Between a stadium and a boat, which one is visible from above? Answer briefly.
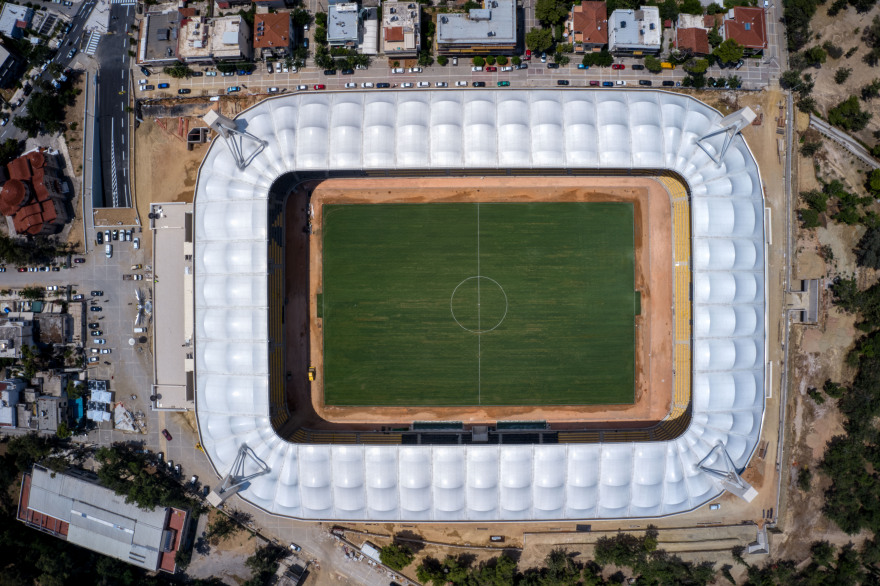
stadium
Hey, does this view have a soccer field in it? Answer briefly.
Yes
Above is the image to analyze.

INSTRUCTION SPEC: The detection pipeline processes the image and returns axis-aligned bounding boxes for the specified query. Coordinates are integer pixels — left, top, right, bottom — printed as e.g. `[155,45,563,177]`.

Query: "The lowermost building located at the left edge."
[15,459,195,574]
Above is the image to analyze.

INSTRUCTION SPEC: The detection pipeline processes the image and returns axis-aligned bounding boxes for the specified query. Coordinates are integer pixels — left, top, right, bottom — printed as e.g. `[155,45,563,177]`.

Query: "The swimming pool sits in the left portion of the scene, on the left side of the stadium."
[68,396,84,421]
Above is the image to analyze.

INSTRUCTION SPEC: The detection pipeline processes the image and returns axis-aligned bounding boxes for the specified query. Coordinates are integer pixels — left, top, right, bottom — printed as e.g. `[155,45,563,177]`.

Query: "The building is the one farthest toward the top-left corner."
[0,2,46,46]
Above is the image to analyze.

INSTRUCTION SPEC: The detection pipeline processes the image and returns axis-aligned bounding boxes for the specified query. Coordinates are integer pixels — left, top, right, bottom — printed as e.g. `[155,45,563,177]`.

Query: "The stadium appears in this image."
[193,90,767,520]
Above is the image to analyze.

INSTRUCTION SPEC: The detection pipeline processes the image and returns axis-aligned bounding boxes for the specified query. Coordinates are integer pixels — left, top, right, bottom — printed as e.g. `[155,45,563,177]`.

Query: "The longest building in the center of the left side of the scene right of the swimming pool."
[150,203,195,411]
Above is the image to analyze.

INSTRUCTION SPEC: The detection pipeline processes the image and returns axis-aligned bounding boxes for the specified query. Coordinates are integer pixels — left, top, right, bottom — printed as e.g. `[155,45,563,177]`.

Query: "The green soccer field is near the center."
[317,202,641,406]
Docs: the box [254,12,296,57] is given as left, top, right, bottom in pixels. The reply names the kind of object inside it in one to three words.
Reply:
house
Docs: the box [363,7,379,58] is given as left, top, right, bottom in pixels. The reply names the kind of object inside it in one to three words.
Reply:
shed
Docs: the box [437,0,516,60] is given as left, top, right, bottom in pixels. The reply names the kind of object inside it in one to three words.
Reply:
building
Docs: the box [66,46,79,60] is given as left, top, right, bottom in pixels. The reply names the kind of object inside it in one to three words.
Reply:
vehicle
